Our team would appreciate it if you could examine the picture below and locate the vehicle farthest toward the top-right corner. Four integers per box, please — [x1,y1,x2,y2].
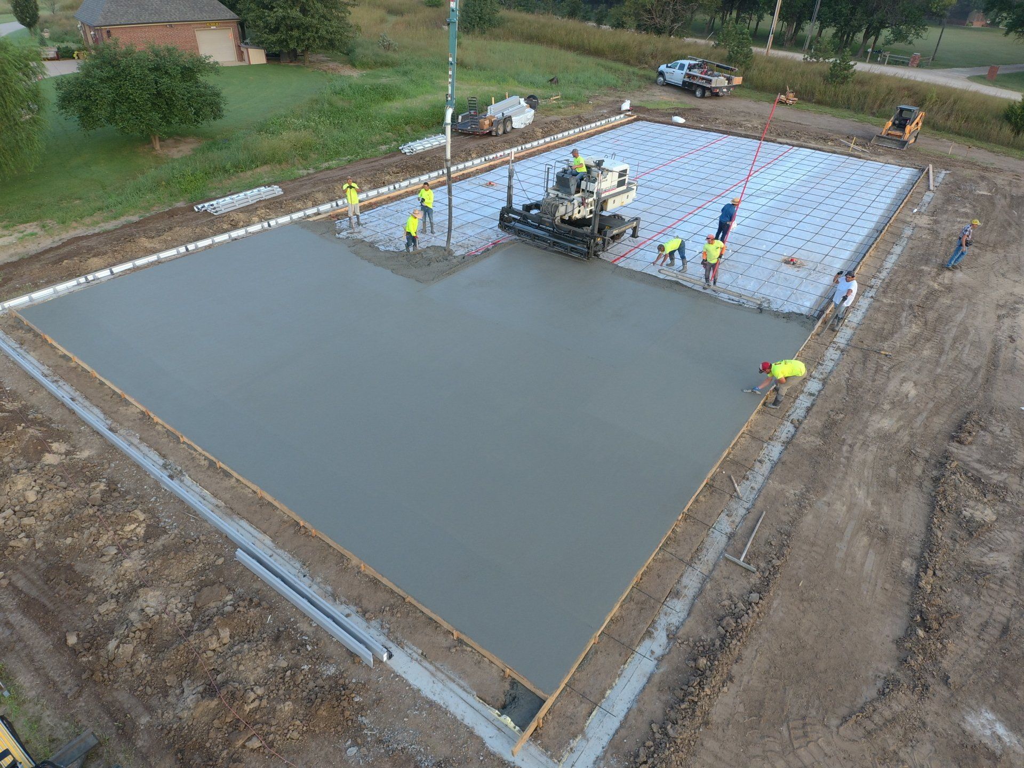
[872,102,937,150]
